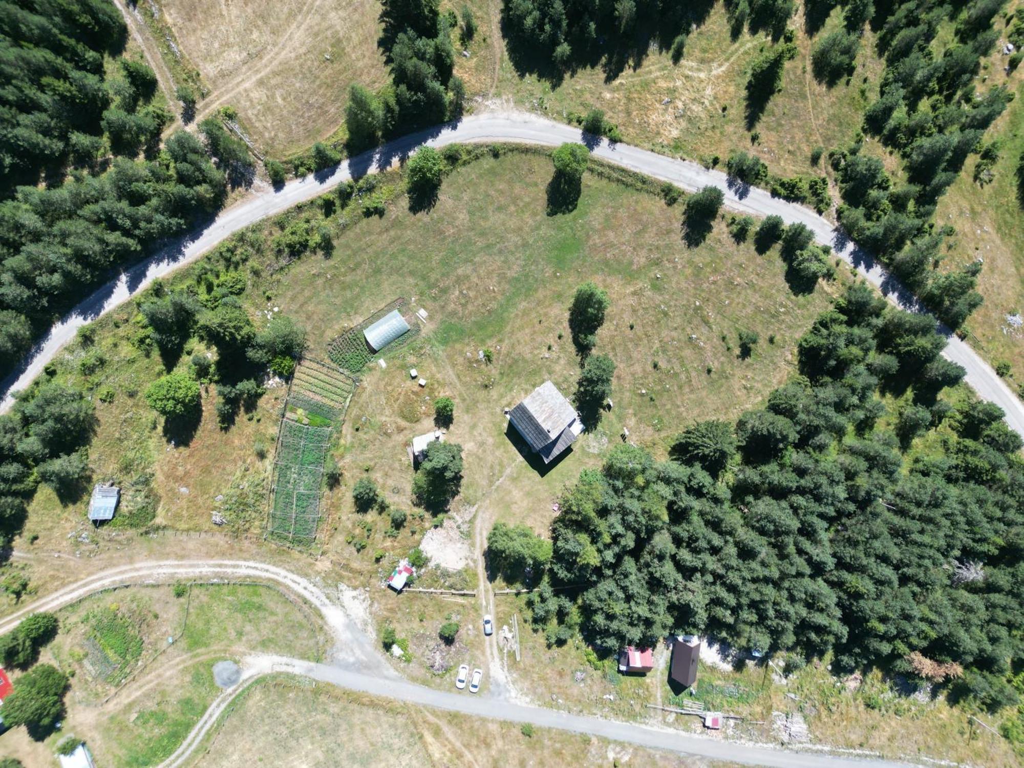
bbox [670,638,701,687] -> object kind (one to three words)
house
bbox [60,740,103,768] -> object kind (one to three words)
shed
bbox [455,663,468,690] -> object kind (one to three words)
vehicle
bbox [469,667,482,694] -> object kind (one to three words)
vehicle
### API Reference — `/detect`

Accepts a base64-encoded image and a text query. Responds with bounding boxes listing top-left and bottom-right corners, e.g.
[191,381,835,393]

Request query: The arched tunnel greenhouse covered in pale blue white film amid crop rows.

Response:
[363,309,410,353]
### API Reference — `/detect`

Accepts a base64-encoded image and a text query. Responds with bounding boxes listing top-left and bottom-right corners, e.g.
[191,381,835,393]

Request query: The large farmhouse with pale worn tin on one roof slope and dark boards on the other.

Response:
[508,381,584,463]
